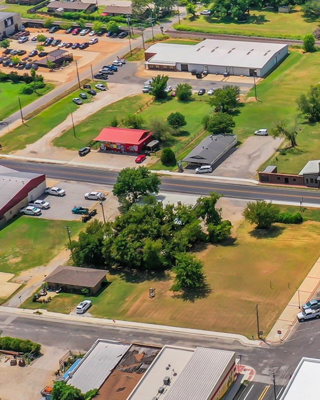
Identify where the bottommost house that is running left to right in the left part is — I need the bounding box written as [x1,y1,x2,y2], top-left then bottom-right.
[43,265,111,298]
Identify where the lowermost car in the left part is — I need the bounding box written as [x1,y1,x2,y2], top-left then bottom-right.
[75,294,90,313]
